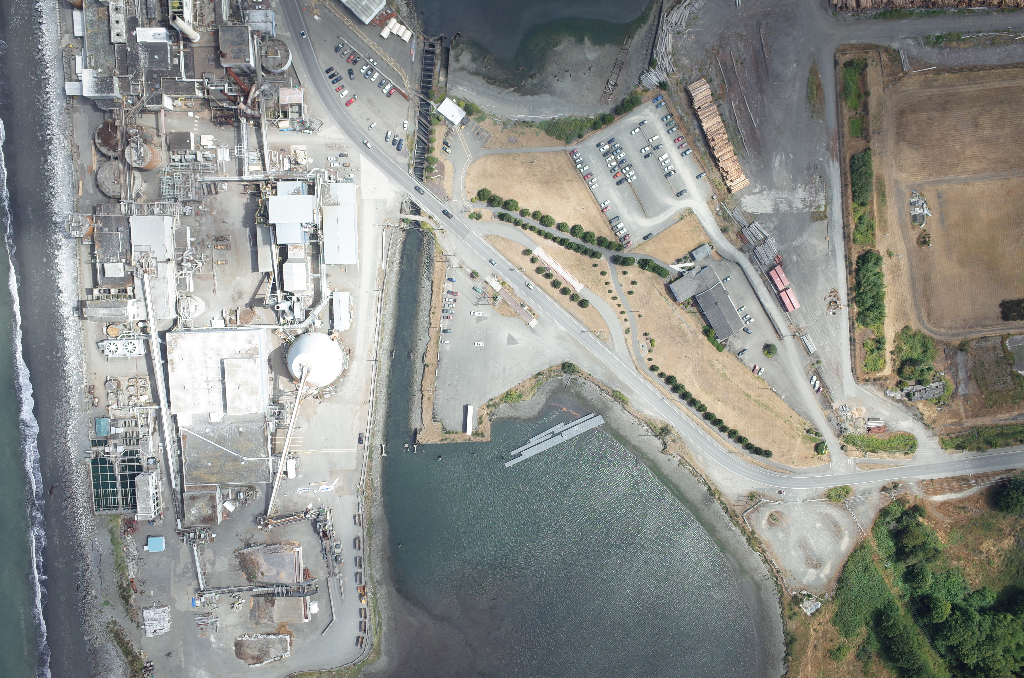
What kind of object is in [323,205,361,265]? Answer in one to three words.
shed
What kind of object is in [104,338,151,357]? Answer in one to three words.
cooling tower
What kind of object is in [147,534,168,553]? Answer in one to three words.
shed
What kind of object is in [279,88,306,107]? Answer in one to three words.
building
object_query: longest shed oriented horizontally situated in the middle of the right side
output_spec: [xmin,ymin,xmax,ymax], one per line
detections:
[886,378,945,404]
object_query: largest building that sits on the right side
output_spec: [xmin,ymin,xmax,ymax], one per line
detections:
[667,266,744,340]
